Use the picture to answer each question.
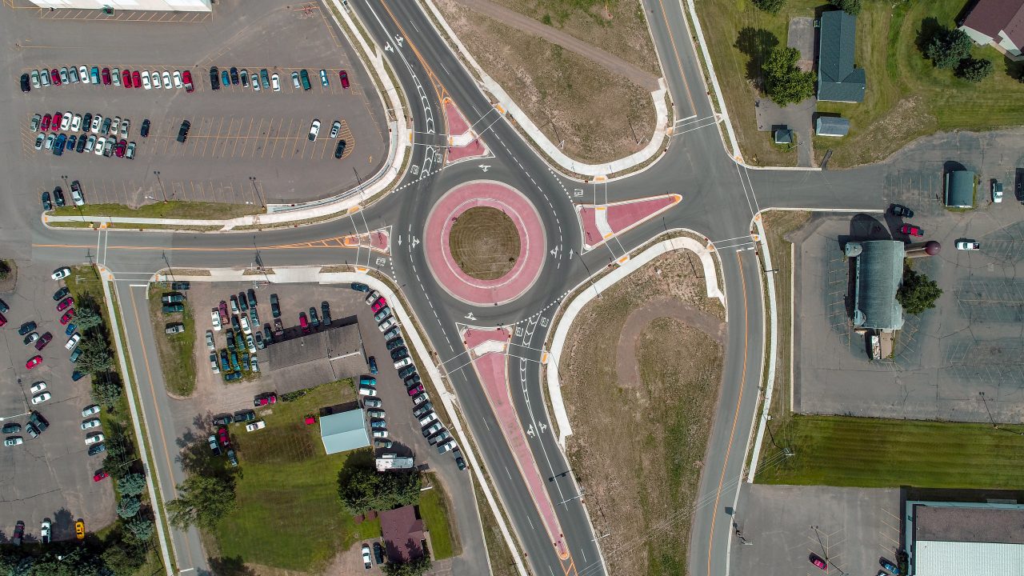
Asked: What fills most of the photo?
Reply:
paved ground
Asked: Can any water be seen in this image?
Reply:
No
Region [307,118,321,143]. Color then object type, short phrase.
white vehicle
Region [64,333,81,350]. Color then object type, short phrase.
white car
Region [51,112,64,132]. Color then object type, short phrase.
red vehicle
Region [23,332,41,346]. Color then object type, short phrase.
gray car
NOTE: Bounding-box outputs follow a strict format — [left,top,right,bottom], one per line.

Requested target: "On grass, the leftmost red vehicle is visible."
[218,426,231,448]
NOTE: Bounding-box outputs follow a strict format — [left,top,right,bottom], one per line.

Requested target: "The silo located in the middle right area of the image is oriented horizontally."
[905,240,943,259]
